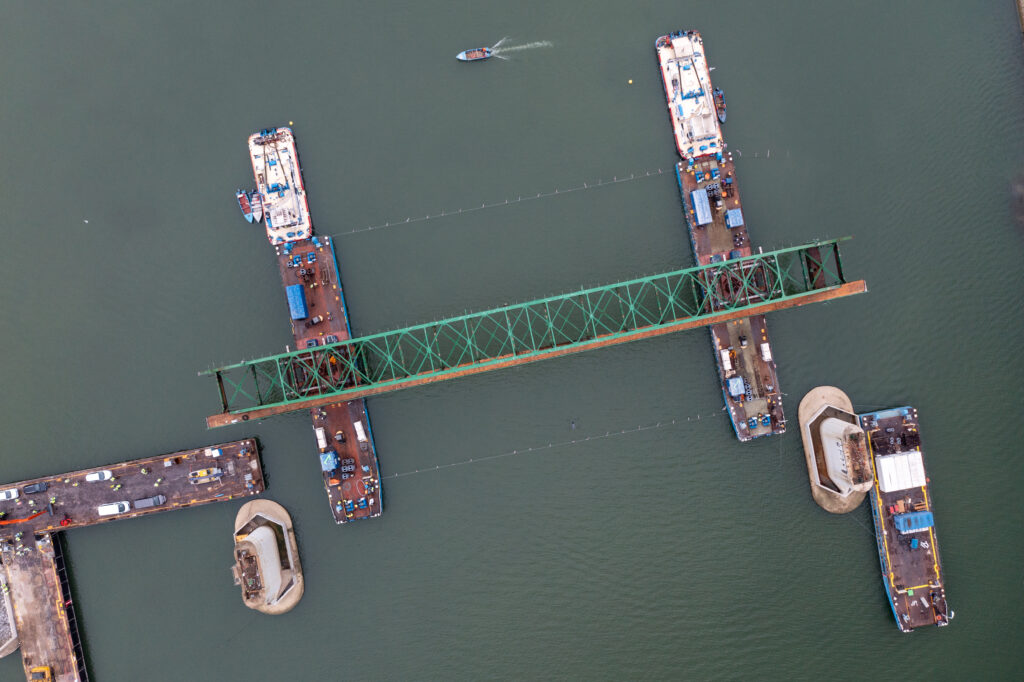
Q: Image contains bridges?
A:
Yes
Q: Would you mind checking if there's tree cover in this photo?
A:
No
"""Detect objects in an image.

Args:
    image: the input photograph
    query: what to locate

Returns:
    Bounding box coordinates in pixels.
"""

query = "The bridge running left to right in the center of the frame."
[197,234,868,430]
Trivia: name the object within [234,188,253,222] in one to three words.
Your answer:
boat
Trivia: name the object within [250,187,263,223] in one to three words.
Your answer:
boat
